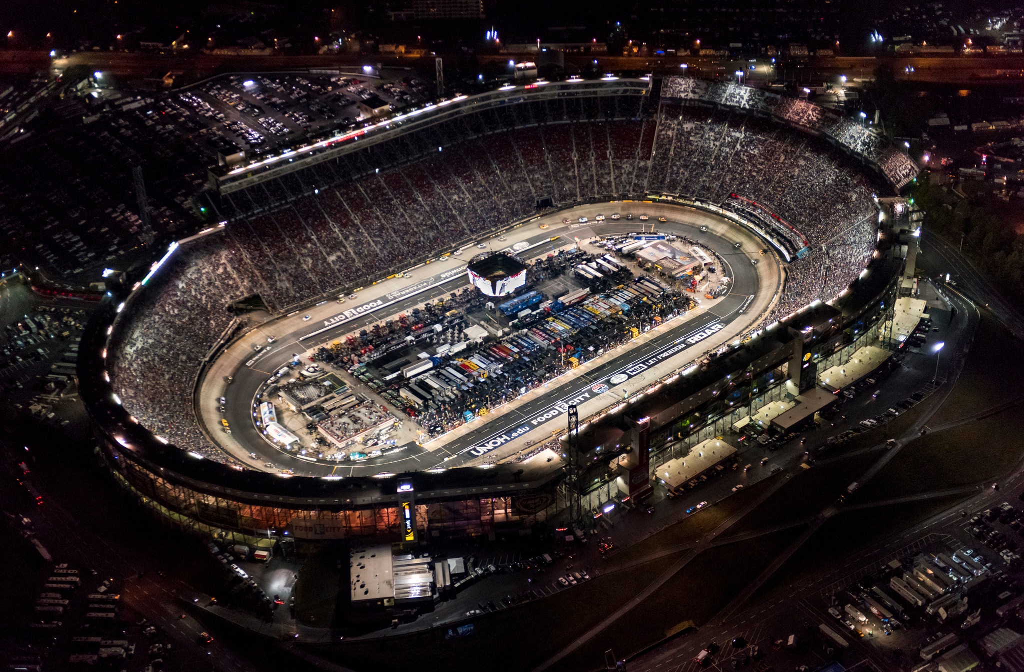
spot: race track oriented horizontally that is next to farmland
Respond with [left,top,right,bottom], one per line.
[199,202,781,475]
